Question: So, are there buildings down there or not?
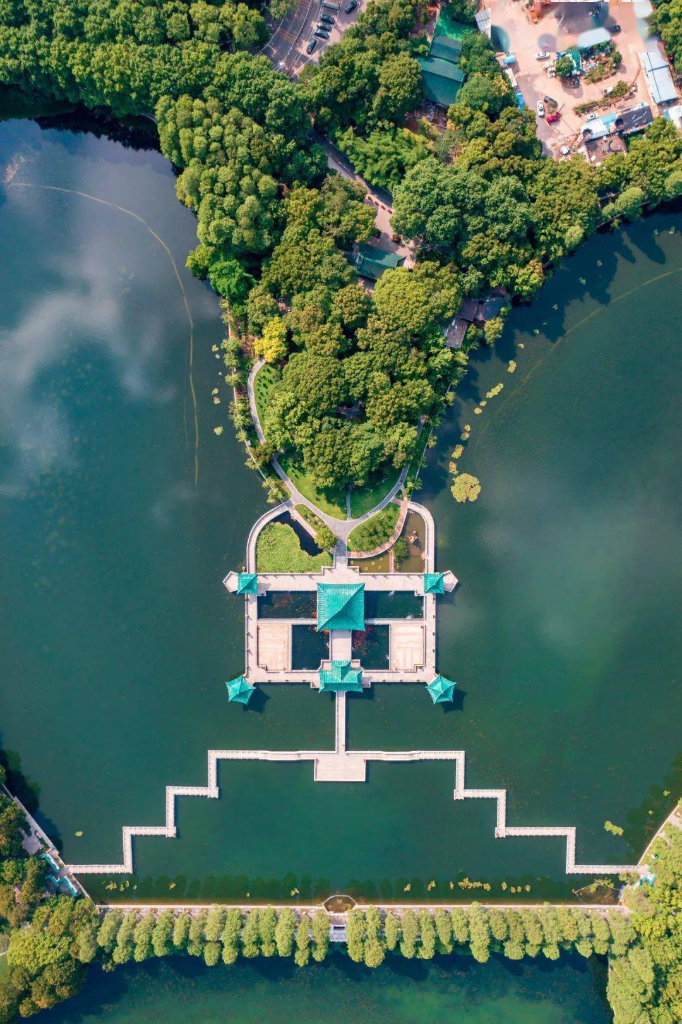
Yes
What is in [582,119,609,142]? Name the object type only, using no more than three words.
shed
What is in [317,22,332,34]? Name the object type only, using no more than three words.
vehicle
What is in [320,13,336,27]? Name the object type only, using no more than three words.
car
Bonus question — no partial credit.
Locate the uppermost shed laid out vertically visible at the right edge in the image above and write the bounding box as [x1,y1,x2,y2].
[630,0,678,104]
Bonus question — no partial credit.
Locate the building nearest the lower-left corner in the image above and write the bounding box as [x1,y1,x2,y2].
[224,674,257,705]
